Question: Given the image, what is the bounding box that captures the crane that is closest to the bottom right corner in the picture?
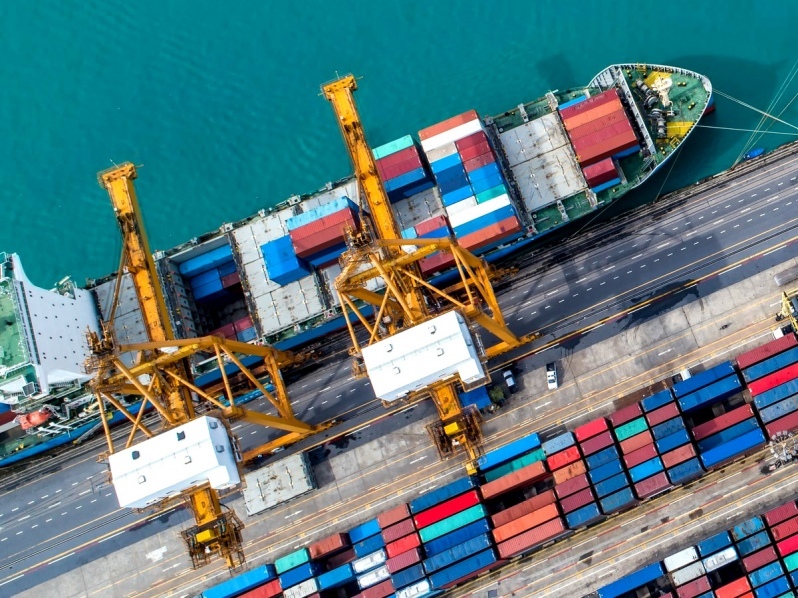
[773,284,798,337]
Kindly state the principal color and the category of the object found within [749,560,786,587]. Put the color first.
blue shipping container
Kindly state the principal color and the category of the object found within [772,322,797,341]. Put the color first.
white vehicle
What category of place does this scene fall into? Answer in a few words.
port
